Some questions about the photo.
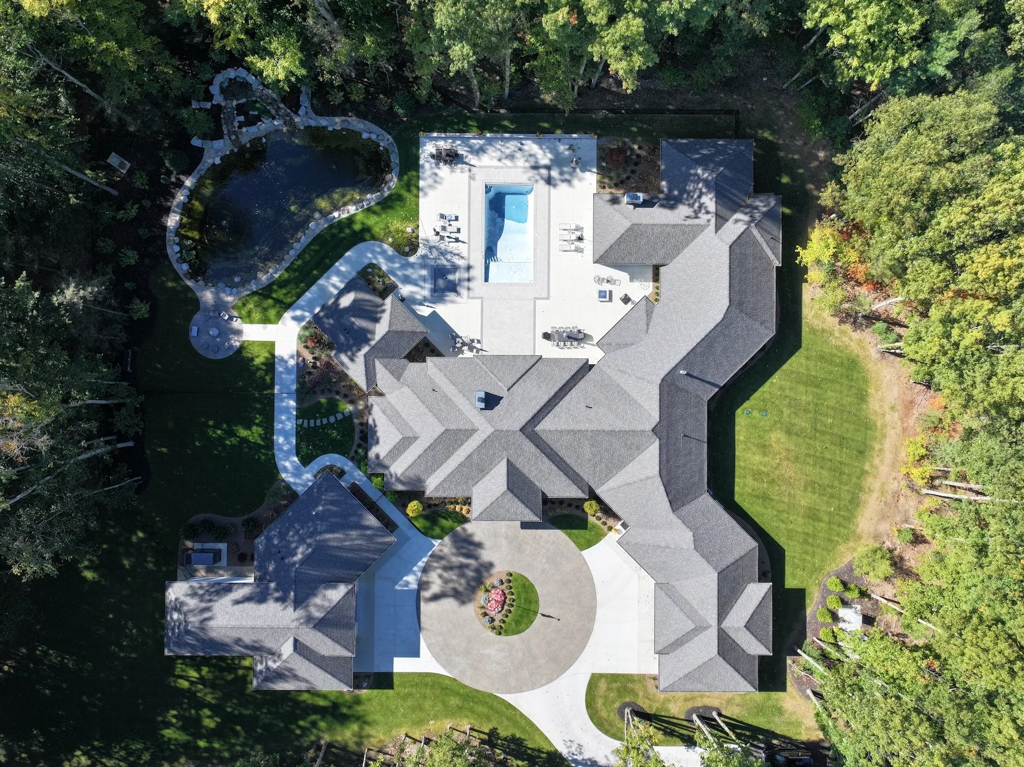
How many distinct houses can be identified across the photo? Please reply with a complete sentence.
The picture shows 2 houses.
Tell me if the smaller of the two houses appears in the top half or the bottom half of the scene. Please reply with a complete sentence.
The bottom half of the photo is where the smaller of the two houses is.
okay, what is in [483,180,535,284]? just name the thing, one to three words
swimming pool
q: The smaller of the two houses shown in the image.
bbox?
[164,469,397,691]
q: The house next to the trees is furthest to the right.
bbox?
[309,137,783,693]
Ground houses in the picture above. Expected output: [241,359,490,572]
[164,469,397,691]
[309,137,783,693]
